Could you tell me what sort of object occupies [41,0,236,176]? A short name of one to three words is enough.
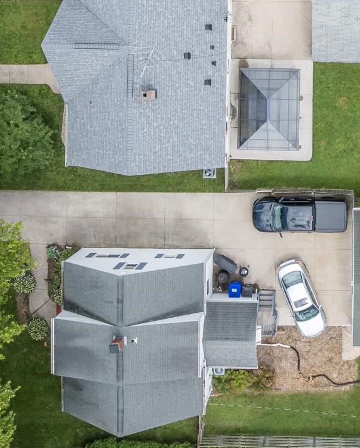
house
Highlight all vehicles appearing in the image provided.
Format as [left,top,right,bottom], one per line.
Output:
[253,197,352,240]
[276,258,325,340]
